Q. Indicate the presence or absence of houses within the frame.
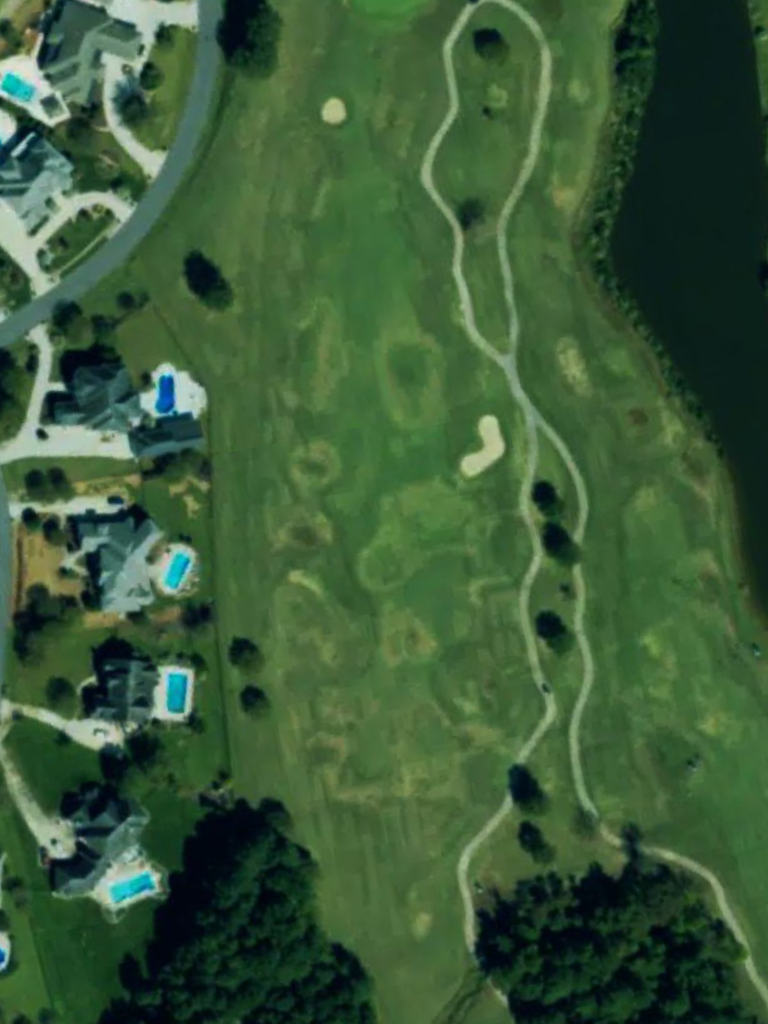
Yes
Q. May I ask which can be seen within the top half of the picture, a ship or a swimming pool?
swimming pool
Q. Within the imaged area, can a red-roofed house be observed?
No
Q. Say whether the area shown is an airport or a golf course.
golf course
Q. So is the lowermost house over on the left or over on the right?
left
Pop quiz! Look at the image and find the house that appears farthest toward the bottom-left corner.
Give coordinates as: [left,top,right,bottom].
[46,799,156,904]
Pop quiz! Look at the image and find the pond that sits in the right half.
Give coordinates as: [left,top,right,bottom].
[611,0,768,631]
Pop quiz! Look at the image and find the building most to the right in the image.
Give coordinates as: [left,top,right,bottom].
[125,413,205,459]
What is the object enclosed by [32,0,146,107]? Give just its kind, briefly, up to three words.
house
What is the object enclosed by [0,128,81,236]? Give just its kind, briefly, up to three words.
house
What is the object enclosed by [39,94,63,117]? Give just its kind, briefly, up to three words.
building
